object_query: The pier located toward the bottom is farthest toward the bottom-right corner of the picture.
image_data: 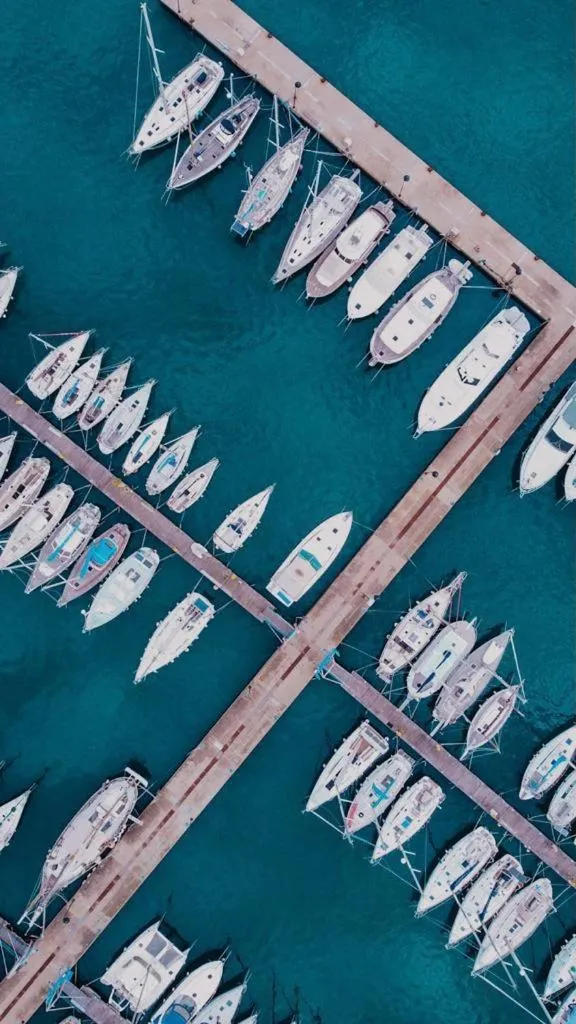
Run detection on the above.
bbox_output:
[341,670,576,888]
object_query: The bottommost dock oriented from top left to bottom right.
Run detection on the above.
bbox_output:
[71,985,130,1024]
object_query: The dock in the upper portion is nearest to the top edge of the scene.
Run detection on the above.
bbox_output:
[154,0,576,342]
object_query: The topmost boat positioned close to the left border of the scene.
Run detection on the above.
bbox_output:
[0,264,28,313]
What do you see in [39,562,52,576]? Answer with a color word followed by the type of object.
white boat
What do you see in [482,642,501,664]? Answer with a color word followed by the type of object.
white boat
